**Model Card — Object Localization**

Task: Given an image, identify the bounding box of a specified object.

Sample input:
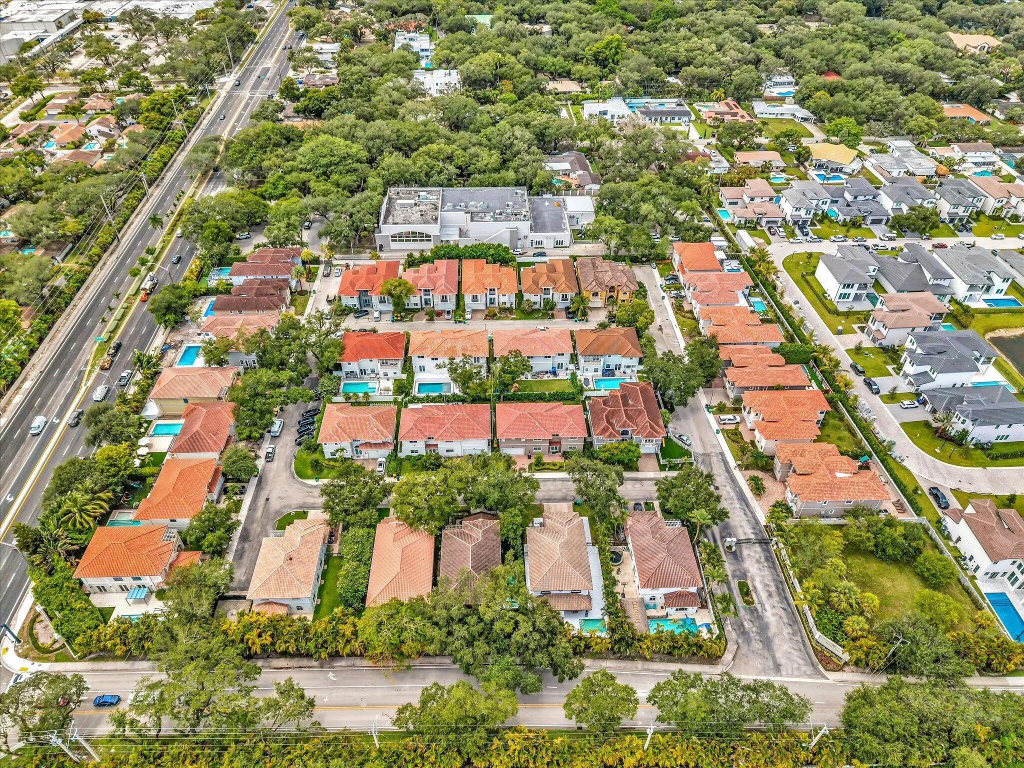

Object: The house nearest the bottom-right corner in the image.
[943,499,1024,578]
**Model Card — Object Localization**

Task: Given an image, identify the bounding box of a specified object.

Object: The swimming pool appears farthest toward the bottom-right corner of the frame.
[983,590,1024,636]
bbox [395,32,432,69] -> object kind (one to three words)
house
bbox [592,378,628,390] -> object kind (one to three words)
swimming pool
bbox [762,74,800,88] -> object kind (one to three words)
house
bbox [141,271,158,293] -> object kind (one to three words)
vehicle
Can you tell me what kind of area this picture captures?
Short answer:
residential area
